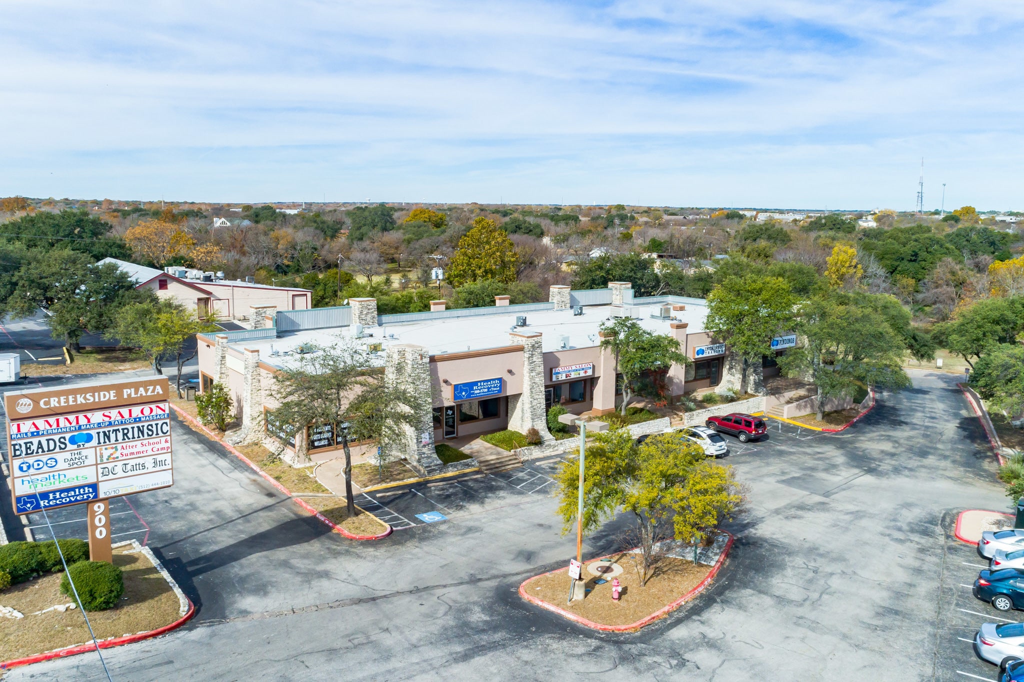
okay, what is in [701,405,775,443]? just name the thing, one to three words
car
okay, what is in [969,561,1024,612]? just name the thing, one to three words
car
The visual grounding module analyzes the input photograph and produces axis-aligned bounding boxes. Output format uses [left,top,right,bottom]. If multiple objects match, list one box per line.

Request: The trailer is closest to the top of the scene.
[0,346,45,380]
